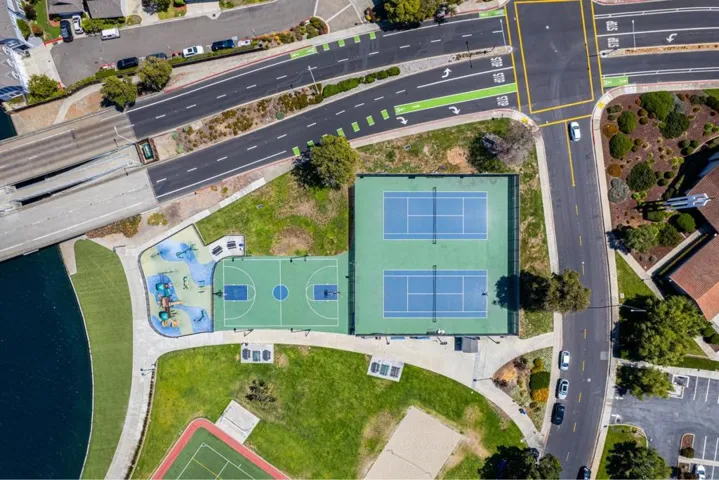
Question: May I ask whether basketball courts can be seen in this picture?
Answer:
Yes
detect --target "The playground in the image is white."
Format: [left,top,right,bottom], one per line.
[138,223,245,338]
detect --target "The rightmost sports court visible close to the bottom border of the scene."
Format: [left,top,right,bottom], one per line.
[363,406,463,480]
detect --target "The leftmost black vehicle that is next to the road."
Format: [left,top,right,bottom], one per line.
[59,20,73,41]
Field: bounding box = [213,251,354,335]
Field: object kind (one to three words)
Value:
basketball court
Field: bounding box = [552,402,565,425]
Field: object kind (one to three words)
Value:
vehicle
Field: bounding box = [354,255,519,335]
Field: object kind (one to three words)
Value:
tennis court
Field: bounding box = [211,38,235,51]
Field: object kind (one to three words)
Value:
vehicle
